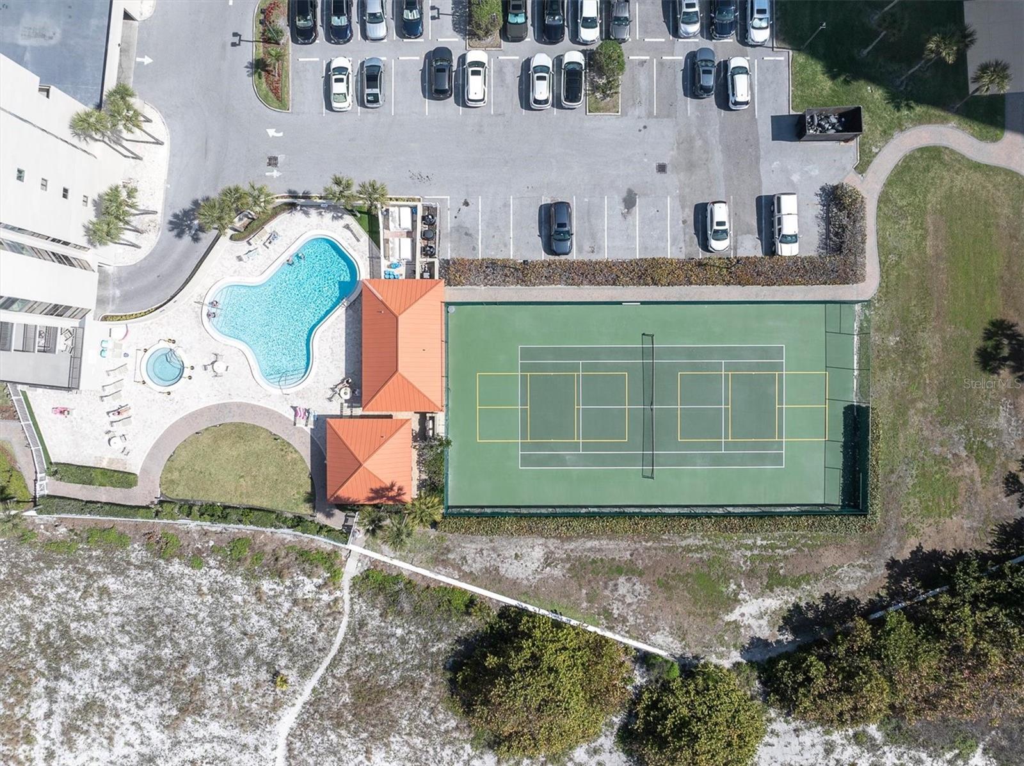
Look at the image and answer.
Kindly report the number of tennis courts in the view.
one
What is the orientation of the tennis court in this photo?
horizontally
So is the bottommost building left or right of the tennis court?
to the left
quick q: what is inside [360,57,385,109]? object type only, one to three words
car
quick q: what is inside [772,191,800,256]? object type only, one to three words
truck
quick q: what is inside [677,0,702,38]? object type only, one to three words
car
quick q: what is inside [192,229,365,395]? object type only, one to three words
swimming pool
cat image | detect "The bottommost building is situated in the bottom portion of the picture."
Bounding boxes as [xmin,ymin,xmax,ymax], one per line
[326,418,415,504]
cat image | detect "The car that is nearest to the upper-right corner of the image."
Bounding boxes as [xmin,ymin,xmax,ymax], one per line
[747,0,773,48]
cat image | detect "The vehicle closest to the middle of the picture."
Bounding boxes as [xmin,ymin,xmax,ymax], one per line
[549,201,574,256]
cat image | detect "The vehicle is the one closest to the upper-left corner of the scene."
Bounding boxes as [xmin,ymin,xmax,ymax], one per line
[292,0,319,46]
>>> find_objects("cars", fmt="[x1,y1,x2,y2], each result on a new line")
[429,47,455,102]
[328,57,353,113]
[529,53,555,111]
[504,0,529,45]
[711,0,738,42]
[400,0,425,40]
[360,57,385,109]
[362,0,387,42]
[692,47,719,100]
[561,50,587,109]
[549,201,574,256]
[542,0,567,46]
[677,0,702,38]
[464,50,489,108]
[576,0,601,46]
[747,0,773,48]
[726,57,753,112]
[326,0,352,46]
[705,201,732,254]
[608,0,633,45]
[292,0,319,46]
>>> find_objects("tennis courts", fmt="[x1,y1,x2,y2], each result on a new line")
[446,305,855,507]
